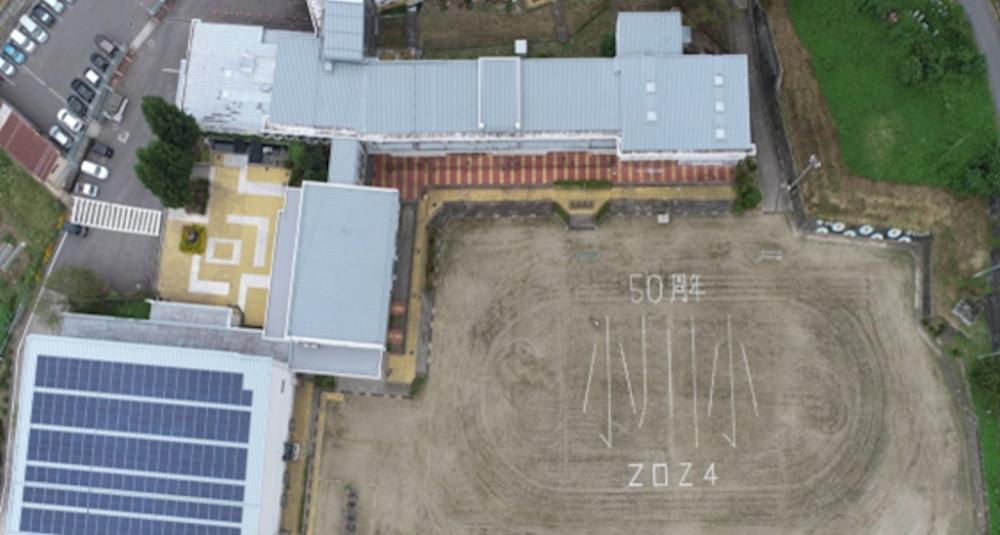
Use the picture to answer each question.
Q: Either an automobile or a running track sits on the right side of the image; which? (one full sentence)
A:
The one visible on the right side of the image is a running track.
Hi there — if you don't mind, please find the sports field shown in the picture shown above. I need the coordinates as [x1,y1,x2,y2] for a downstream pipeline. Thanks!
[317,211,976,535]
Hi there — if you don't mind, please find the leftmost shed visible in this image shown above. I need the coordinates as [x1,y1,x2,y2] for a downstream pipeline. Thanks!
[0,100,62,182]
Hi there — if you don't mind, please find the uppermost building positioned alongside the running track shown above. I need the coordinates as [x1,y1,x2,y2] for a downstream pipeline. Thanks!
[176,0,756,170]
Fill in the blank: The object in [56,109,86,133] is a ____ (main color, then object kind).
white car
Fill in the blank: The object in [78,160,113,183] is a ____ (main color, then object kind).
white car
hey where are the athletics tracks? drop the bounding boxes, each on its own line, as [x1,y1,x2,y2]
[466,287,903,508]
